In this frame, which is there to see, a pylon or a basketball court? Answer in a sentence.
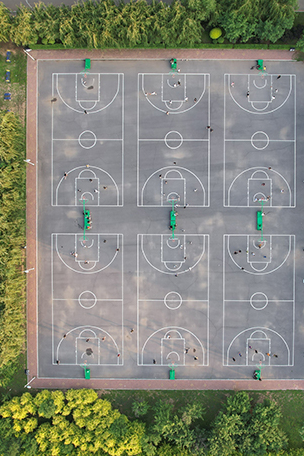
The one in the frame is a basketball court.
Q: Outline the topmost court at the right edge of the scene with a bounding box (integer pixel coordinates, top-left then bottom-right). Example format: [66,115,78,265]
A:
[225,74,296,207]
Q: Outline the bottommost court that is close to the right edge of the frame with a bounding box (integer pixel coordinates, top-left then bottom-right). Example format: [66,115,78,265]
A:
[223,234,295,366]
